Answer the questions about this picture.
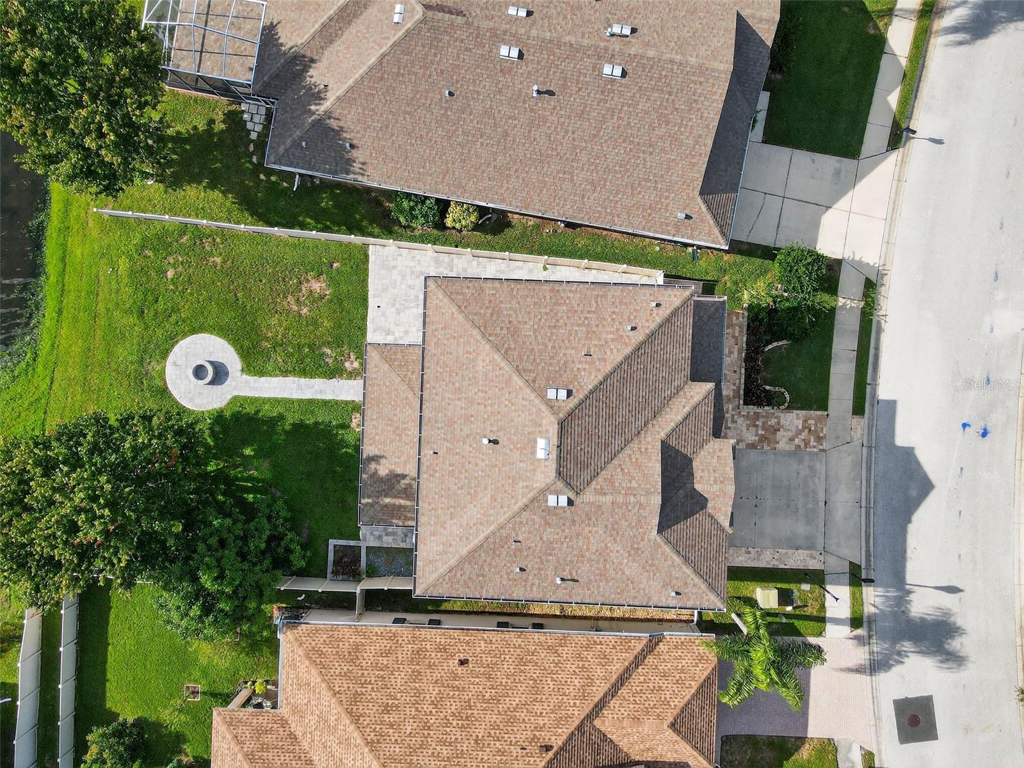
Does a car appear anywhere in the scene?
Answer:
No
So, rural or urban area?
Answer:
urban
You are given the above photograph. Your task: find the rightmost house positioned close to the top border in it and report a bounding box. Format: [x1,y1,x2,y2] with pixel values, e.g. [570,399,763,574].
[251,0,784,252]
